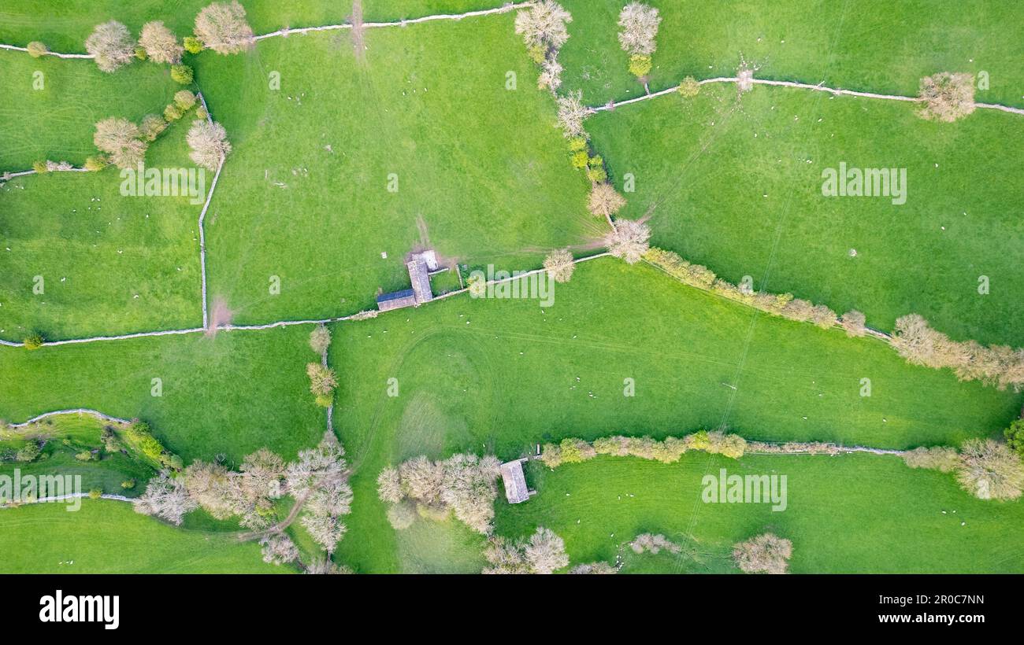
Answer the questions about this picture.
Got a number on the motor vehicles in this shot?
0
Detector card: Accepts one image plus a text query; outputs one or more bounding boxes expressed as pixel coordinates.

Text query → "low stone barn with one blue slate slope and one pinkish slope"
[377,289,415,311]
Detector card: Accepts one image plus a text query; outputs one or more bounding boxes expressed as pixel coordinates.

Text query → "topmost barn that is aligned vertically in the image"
[408,260,434,303]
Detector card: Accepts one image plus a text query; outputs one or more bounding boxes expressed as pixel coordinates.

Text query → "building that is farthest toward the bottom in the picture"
[499,459,529,503]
